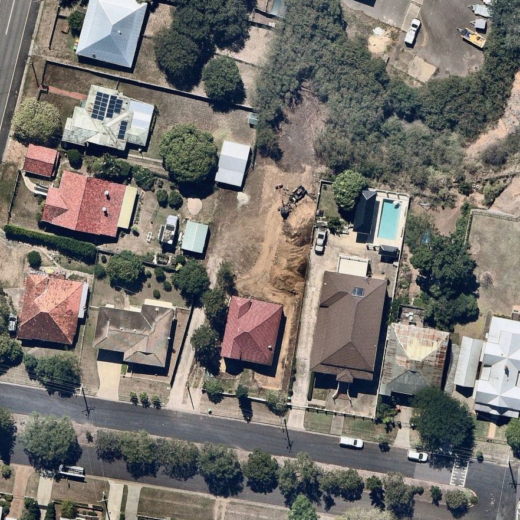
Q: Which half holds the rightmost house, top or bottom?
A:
bottom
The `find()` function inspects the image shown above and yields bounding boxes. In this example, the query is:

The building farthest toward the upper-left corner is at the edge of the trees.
[75,0,148,69]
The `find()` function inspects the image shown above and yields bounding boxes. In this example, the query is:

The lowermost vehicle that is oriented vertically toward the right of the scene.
[314,227,326,251]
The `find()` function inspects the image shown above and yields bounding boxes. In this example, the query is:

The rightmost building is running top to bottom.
[472,316,520,419]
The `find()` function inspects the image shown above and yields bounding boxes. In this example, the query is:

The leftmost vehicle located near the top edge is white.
[405,18,420,44]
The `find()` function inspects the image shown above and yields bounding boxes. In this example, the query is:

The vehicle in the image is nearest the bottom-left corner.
[59,464,85,478]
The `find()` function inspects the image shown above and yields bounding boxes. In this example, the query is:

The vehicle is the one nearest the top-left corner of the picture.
[163,215,177,243]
